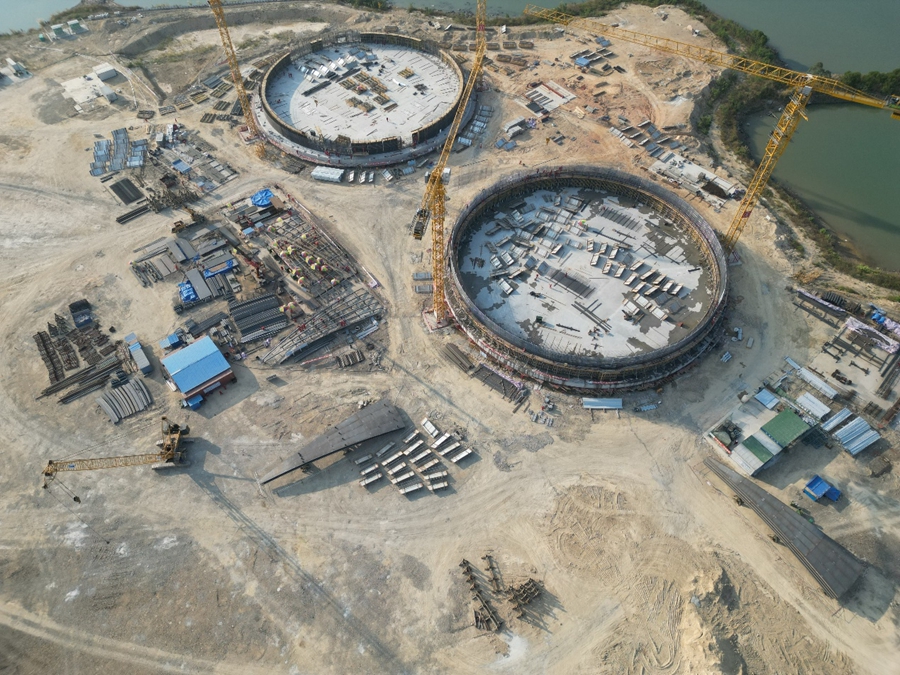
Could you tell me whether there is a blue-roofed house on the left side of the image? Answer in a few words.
Yes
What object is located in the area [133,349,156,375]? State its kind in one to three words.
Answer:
shed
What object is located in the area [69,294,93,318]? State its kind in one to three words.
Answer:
shed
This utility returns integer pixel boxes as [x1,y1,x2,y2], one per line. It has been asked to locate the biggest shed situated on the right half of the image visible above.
[726,410,811,480]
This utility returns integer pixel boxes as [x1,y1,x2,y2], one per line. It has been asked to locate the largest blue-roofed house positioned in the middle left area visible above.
[162,337,233,398]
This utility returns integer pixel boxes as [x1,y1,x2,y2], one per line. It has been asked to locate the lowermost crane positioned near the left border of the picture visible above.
[43,417,195,532]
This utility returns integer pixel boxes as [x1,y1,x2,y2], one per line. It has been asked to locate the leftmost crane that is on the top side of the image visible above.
[166,201,204,235]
